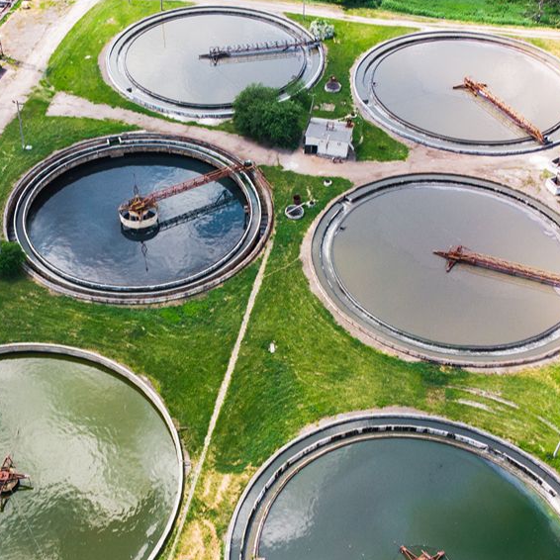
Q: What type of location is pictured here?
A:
industrial area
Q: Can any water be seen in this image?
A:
Yes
